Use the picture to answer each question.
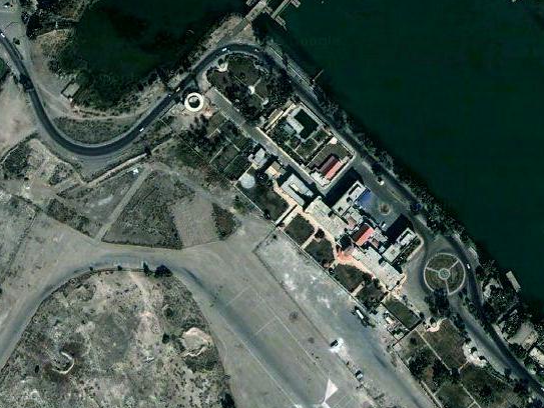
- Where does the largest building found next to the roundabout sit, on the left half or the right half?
right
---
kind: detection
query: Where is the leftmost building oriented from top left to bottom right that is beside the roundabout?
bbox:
[352,247,403,290]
